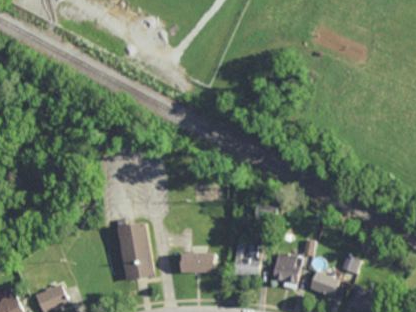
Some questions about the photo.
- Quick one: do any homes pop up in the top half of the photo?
No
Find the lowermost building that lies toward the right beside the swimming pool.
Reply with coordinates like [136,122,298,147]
[310,272,341,297]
